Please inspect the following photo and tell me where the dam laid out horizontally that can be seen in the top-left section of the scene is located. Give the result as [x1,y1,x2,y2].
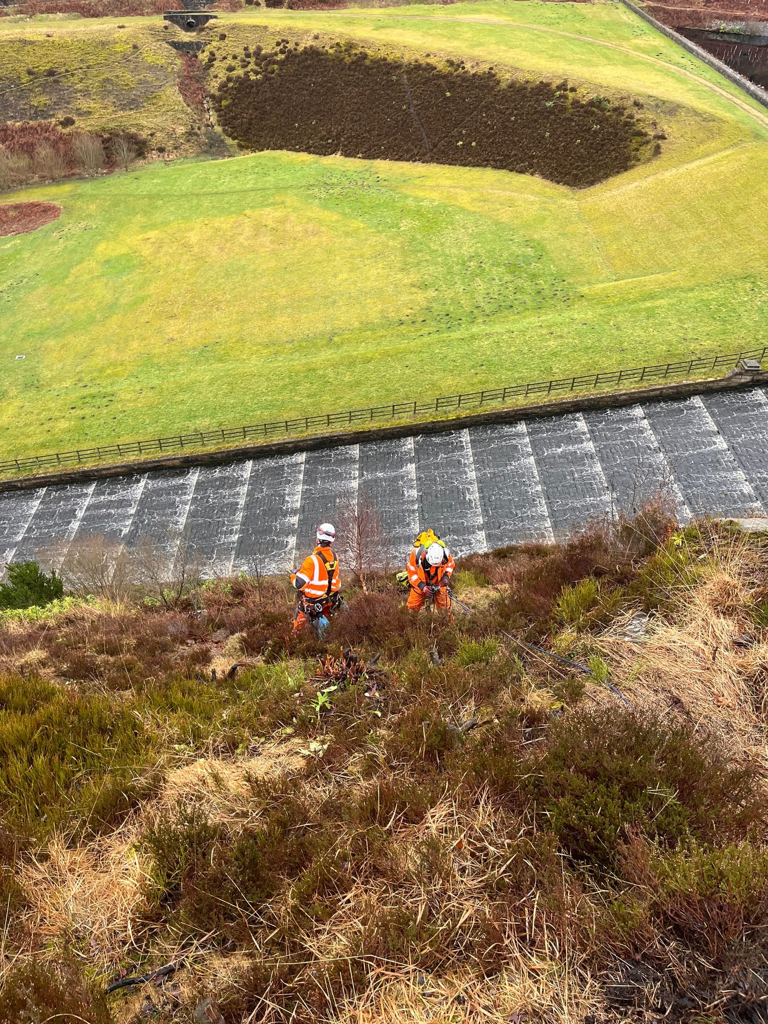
[163,34,213,53]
